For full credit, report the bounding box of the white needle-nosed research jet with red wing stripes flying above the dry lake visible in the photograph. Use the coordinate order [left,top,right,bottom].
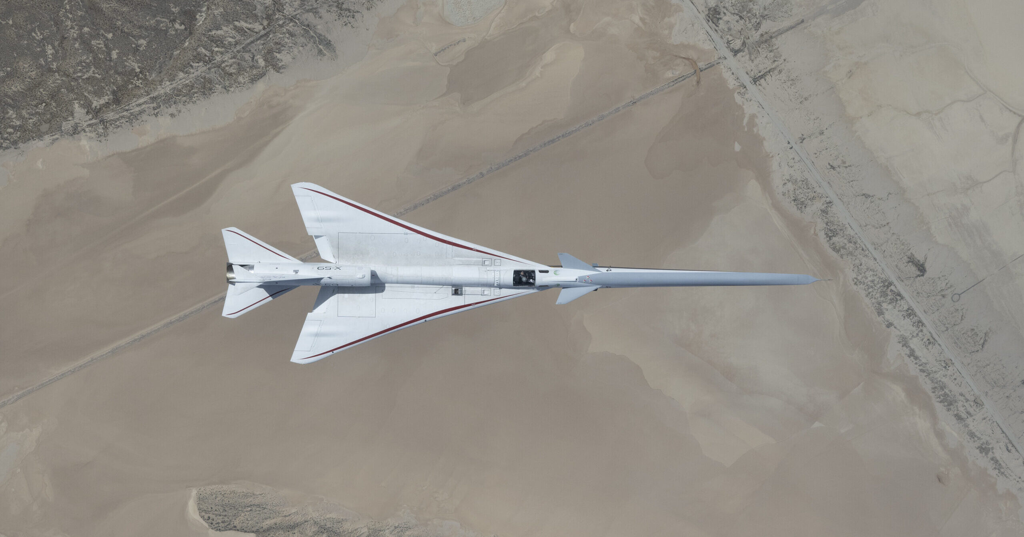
[222,181,820,364]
